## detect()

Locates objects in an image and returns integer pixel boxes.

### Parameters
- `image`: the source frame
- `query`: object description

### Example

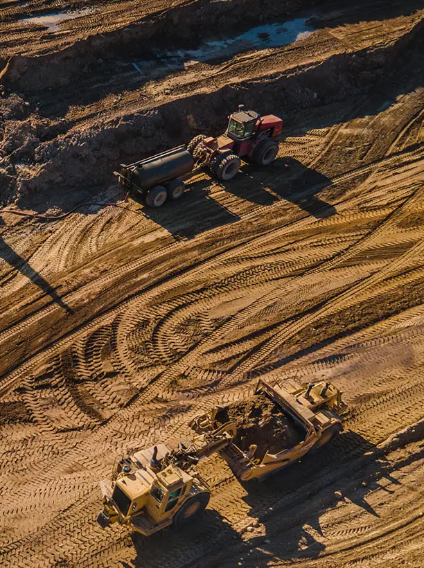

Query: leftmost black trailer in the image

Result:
[110,144,198,203]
